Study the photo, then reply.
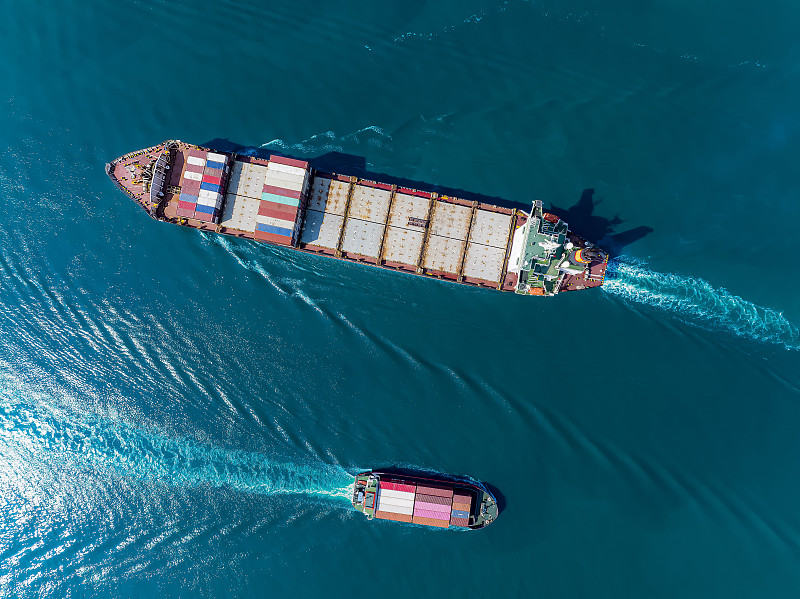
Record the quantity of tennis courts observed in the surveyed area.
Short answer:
0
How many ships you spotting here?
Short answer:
2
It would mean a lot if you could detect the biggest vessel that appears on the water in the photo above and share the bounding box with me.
[104,140,609,298]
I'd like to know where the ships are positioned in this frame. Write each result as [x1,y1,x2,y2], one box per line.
[104,140,609,298]
[352,467,499,530]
